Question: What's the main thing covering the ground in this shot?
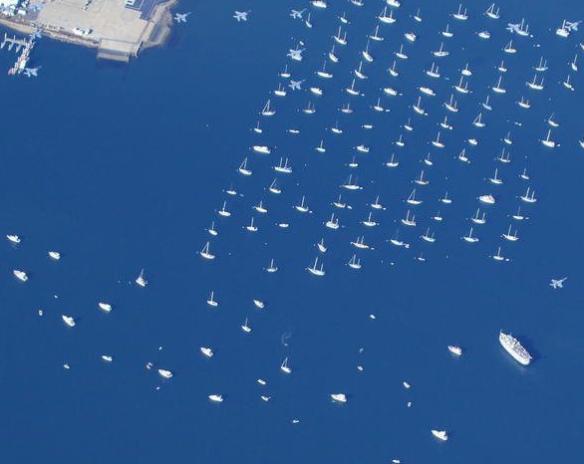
water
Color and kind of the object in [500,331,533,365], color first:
white ship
